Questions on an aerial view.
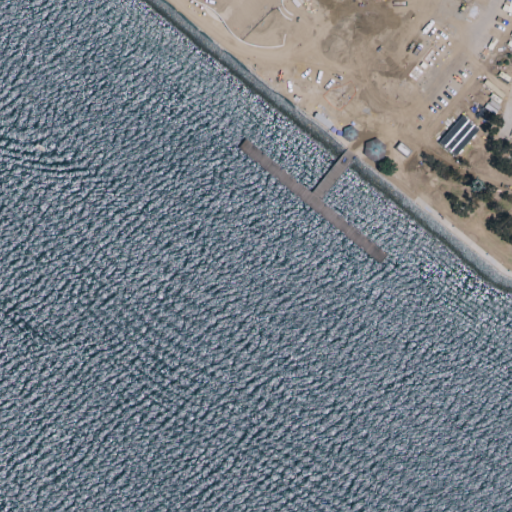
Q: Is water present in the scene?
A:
Yes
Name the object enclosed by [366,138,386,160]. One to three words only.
gazebo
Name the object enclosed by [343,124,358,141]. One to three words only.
gazebo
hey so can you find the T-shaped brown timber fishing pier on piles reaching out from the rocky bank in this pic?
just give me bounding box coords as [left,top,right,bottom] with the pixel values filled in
[240,140,386,261]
